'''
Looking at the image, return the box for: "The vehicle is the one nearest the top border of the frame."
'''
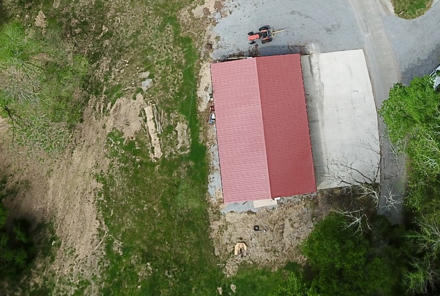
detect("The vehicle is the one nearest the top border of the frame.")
[246,25,273,44]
